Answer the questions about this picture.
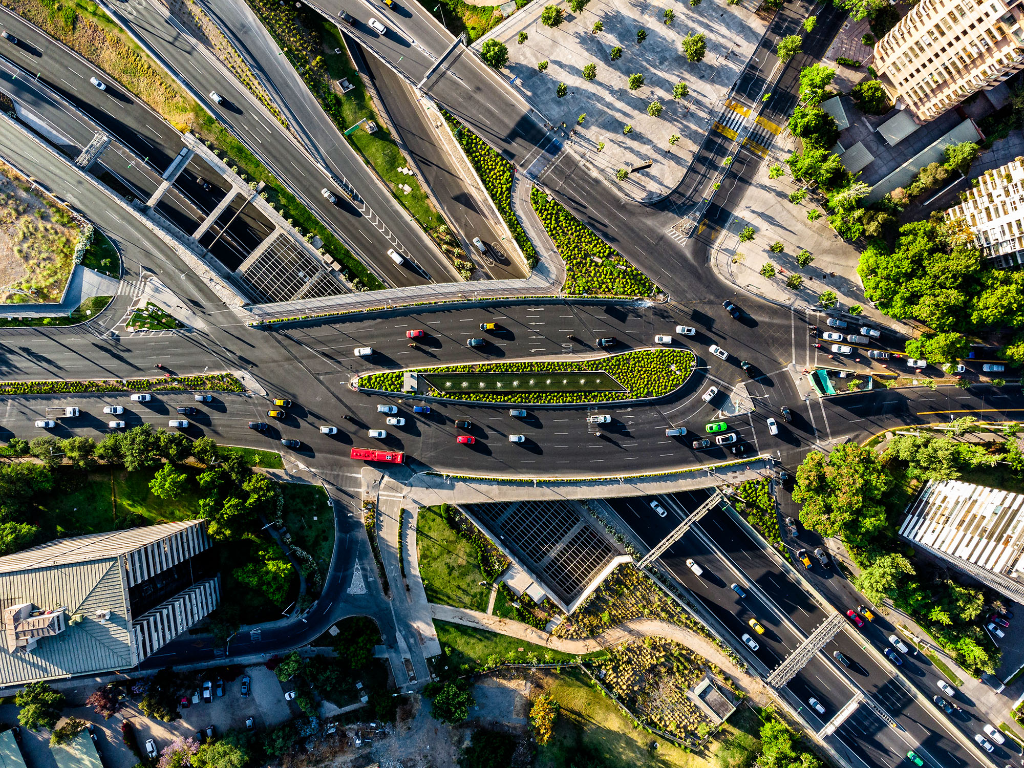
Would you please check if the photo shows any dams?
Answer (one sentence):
No, the frame has no dam in it.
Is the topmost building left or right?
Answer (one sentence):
The topmost building appears in the right half of the scene.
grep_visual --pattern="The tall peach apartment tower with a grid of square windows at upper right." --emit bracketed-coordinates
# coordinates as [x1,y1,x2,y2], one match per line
[876,0,1024,120]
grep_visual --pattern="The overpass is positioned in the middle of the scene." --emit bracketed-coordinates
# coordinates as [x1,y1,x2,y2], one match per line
[239,169,774,508]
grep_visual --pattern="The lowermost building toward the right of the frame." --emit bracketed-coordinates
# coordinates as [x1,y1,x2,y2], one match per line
[692,674,737,723]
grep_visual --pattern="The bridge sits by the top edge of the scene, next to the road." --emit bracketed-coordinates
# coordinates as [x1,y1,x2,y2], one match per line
[299,0,552,158]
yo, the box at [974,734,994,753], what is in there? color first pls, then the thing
white car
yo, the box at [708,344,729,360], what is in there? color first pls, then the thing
white car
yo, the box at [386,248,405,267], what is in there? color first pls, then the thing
white vehicle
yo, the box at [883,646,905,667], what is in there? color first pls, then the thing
blue truck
